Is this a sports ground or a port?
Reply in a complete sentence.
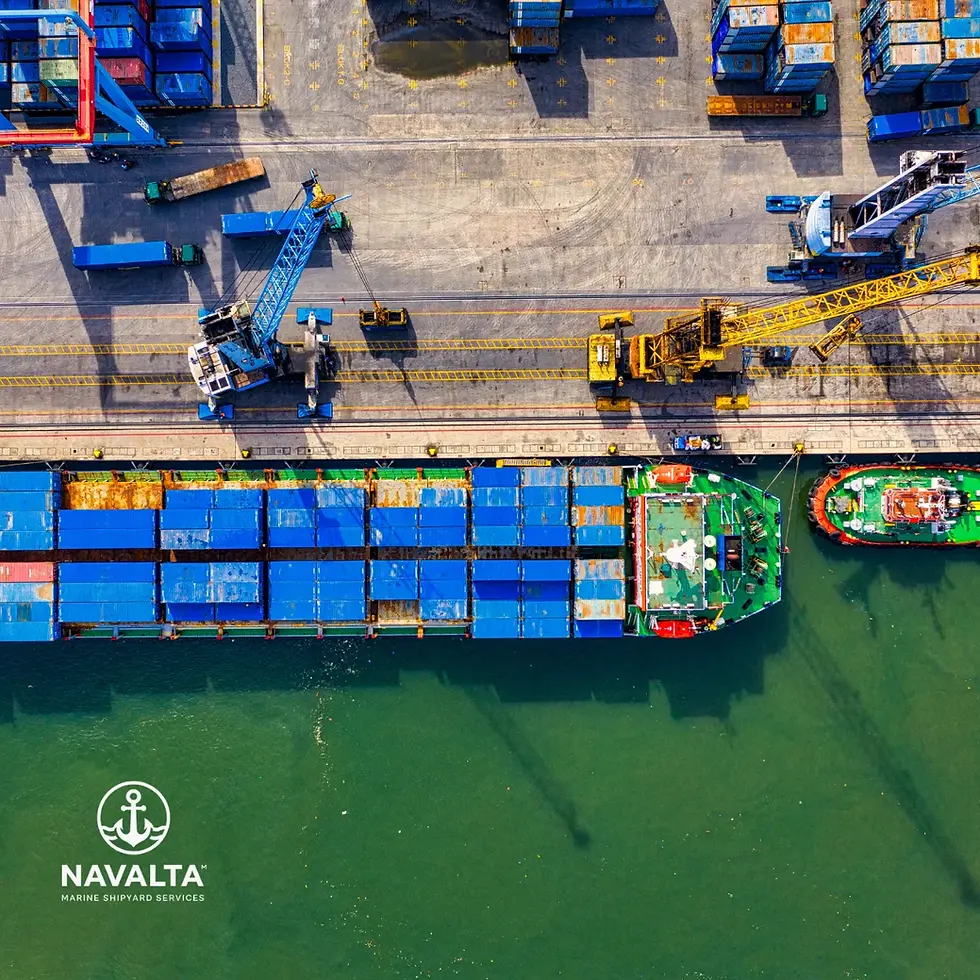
It's a port.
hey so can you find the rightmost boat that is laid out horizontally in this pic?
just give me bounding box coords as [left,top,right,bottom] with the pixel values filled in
[806,459,980,546]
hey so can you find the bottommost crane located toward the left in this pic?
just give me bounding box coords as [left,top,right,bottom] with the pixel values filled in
[184,163,384,419]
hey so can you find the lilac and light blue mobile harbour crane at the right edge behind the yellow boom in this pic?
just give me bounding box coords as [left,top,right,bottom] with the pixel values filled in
[765,149,980,282]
